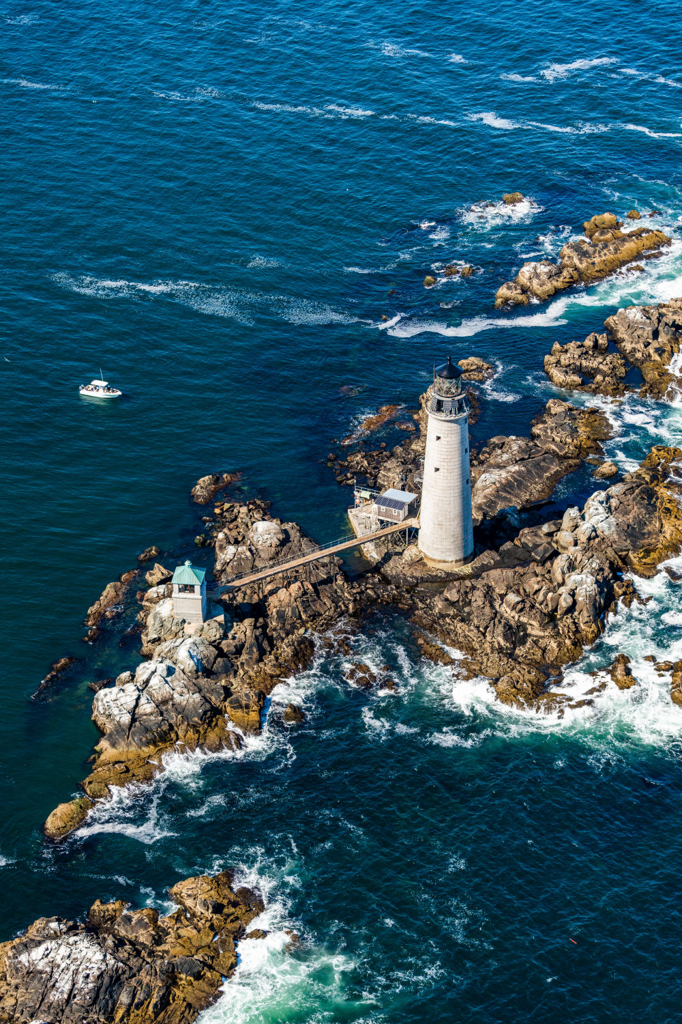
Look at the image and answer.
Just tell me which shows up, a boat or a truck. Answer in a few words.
boat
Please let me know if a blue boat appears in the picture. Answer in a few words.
No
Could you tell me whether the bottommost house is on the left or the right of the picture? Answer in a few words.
left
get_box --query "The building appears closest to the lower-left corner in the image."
[172,560,209,623]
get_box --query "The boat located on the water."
[75,369,121,398]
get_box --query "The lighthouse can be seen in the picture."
[411,356,476,571]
